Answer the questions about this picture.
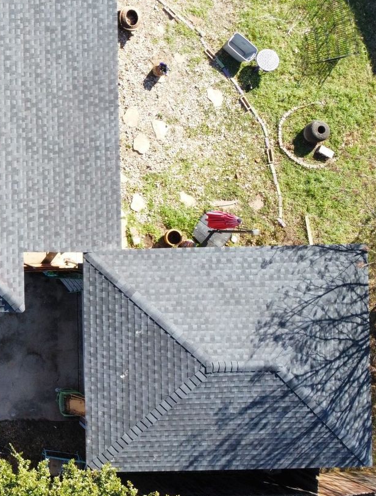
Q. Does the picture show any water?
No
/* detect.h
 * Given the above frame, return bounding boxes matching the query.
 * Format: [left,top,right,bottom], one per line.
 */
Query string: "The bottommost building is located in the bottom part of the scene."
[74,247,373,471]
